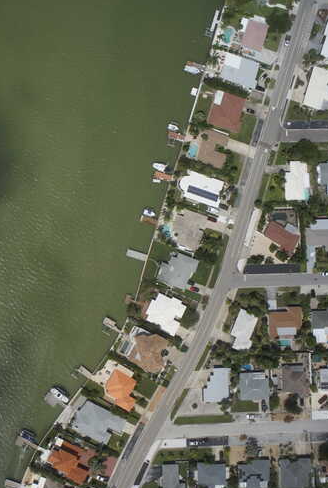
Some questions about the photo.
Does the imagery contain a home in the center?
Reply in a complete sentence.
Yes, I can see a home in the center.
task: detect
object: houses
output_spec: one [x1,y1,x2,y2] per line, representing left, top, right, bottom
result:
[303,219,328,251]
[315,362,328,393]
[145,294,188,335]
[207,90,247,133]
[73,400,127,441]
[266,306,302,336]
[262,221,300,253]
[276,456,311,488]
[172,208,208,251]
[315,163,328,193]
[106,369,136,411]
[281,161,311,199]
[158,462,187,488]
[239,15,268,53]
[236,458,270,488]
[196,130,229,167]
[157,253,199,287]
[319,21,328,61]
[229,309,257,349]
[218,54,259,88]
[300,66,328,111]
[177,170,223,207]
[237,371,270,400]
[202,367,231,402]
[48,443,91,485]
[127,334,170,372]
[196,462,226,488]
[308,310,328,343]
